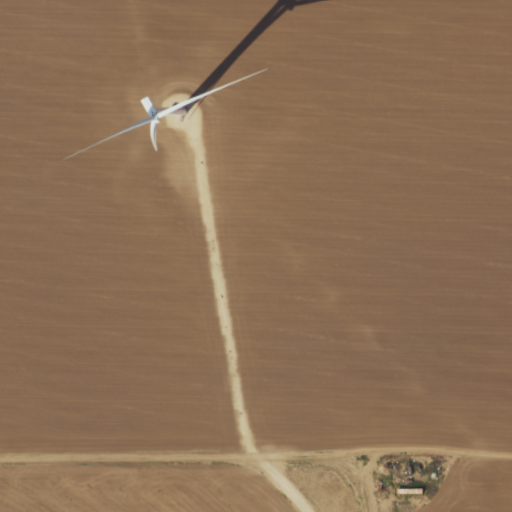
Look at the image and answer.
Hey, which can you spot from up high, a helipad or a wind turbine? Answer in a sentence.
Visible in the photo is a wind turbine.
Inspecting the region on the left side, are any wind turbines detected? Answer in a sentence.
Yes, a wind turbine can be seen on the left side.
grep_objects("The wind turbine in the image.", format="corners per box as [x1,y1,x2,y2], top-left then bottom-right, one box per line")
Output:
[64,68,268,159]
